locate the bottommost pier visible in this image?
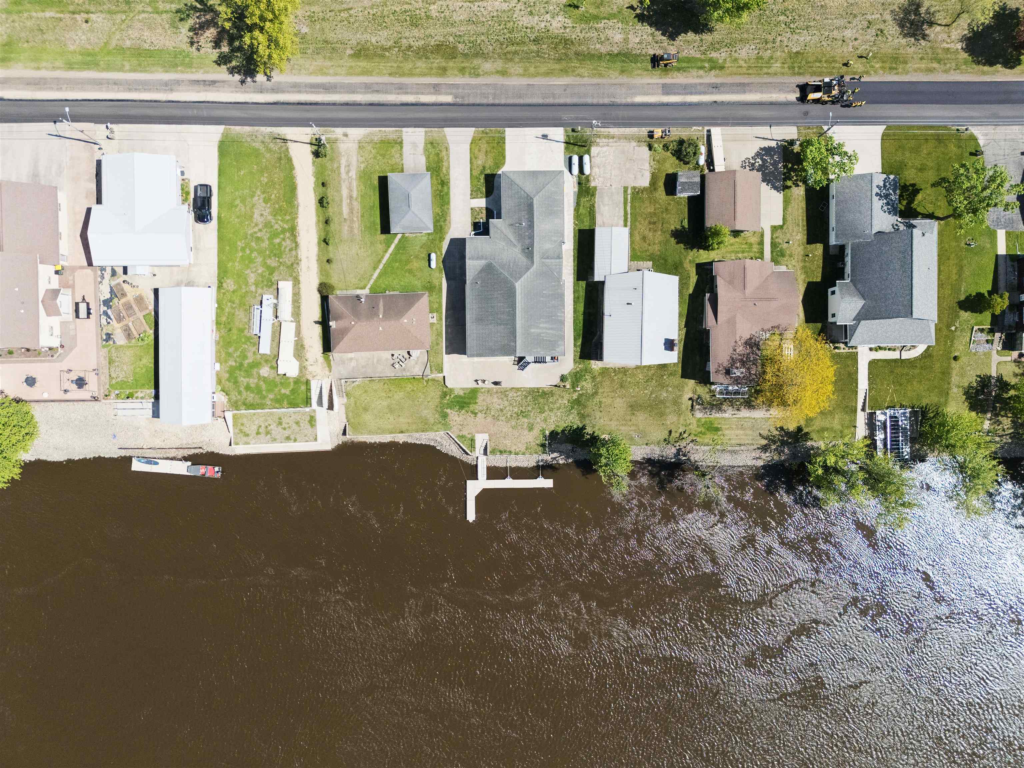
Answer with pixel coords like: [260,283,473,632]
[467,479,553,522]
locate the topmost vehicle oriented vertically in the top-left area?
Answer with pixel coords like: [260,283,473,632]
[192,183,211,224]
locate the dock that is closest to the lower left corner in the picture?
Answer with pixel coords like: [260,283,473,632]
[132,457,192,474]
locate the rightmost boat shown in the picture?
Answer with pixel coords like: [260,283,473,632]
[186,467,221,480]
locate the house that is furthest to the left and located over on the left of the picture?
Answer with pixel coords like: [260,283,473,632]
[0,180,74,351]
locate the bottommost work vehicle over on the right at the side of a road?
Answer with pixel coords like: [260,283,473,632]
[652,126,672,138]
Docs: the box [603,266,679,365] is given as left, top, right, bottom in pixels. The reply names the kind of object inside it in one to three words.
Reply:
house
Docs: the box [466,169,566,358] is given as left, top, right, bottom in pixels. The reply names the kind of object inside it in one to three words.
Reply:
building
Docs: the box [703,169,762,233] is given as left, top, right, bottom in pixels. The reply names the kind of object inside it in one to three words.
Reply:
building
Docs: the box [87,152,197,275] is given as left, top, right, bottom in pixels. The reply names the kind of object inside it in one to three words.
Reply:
house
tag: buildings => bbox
[603,266,679,365]
[328,291,431,354]
[827,172,938,346]
[158,287,220,426]
[466,169,566,358]
[674,170,701,198]
[703,169,762,233]
[387,171,434,235]
[0,180,74,351]
[87,152,197,275]
[703,258,800,391]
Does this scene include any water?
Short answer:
Yes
